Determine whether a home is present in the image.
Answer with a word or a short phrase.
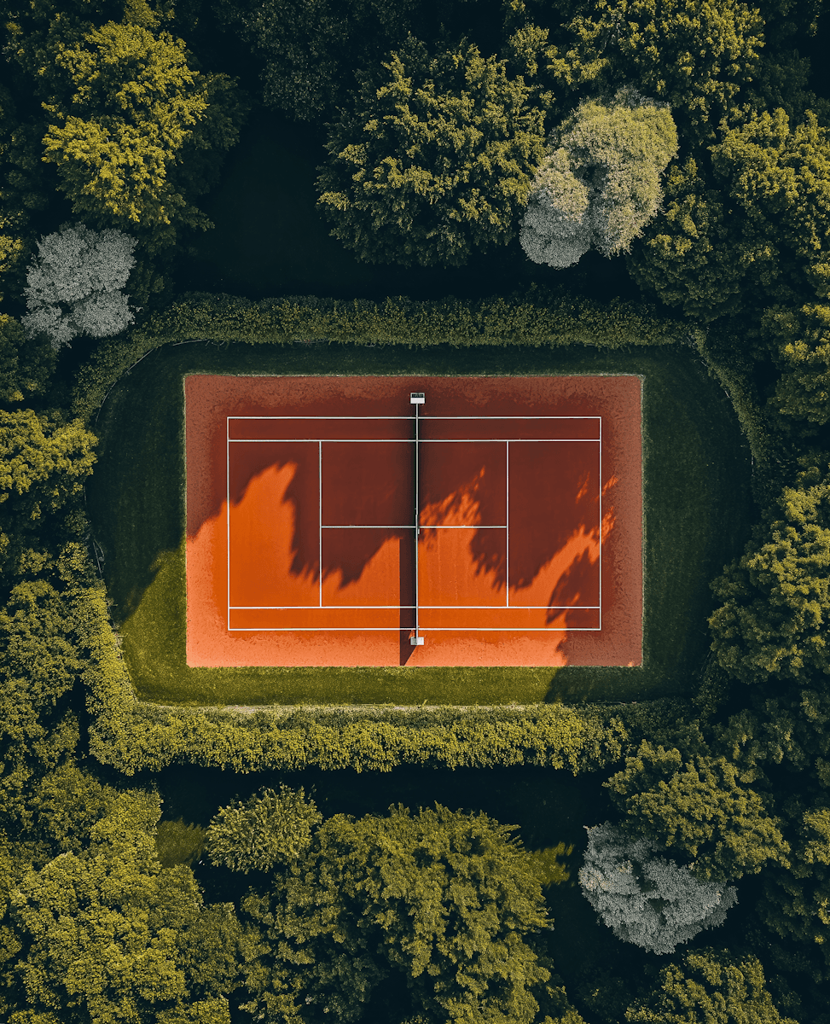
No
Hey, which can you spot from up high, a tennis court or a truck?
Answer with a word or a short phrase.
tennis court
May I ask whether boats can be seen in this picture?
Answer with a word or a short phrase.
No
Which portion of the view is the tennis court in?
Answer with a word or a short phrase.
center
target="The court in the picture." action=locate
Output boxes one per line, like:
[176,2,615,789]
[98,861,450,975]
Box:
[185,374,643,667]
